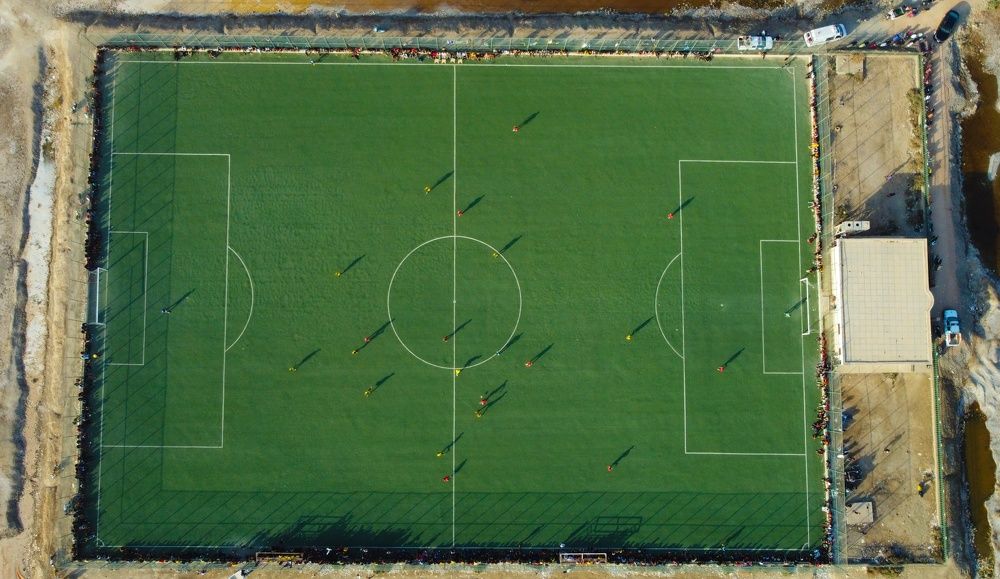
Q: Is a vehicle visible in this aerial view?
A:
Yes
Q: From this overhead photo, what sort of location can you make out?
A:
sports ground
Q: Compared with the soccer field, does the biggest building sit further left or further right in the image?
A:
right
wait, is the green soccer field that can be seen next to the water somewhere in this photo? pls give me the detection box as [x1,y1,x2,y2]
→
[78,51,827,558]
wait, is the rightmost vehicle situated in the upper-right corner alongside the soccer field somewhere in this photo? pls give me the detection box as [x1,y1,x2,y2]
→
[802,26,844,49]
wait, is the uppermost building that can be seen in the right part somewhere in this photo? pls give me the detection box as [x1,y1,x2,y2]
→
[824,221,936,367]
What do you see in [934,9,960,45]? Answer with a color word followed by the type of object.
black car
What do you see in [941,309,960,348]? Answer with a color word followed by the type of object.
blue vehicle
